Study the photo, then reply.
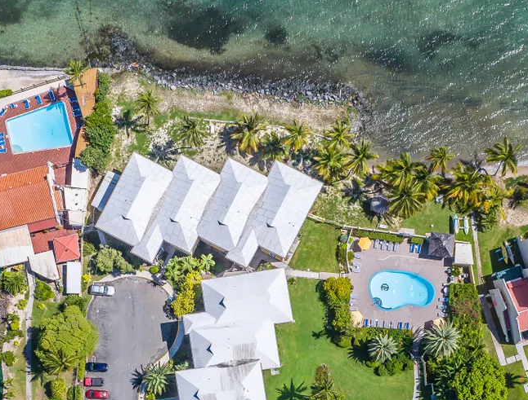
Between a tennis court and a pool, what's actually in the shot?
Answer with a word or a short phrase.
pool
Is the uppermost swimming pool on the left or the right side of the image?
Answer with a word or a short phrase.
left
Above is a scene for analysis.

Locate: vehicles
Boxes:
[85,362,108,372]
[82,376,108,387]
[89,284,116,294]
[86,390,108,399]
